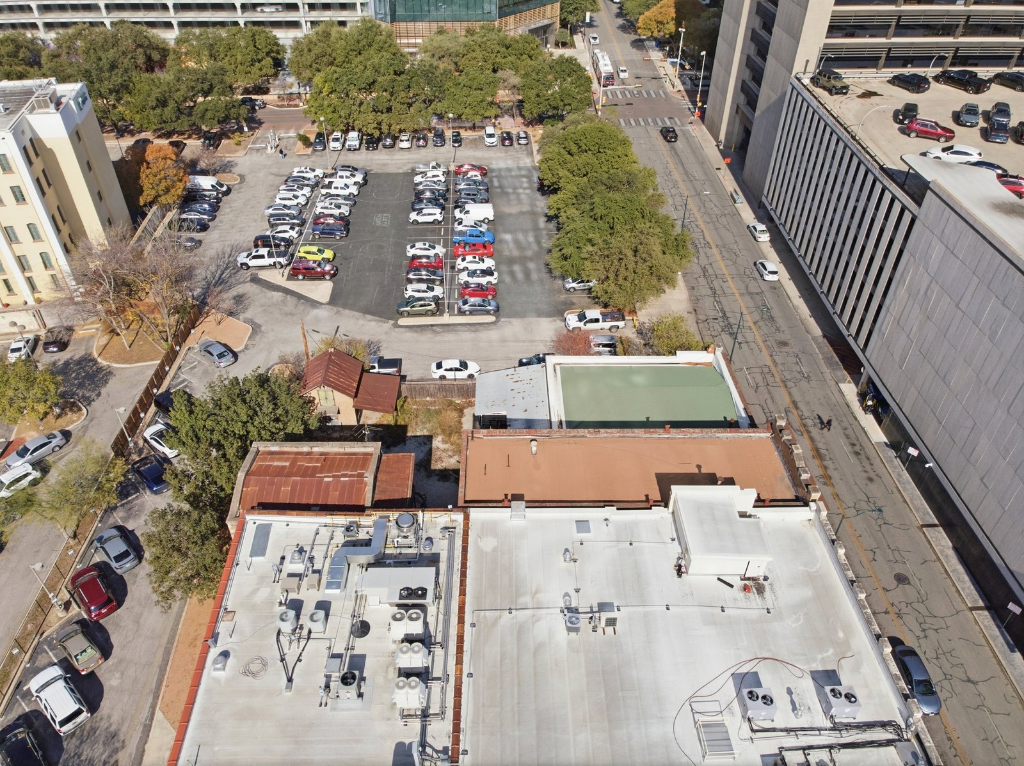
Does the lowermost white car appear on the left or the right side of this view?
left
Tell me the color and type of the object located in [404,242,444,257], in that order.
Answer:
white car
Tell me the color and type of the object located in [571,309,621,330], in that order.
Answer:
white truck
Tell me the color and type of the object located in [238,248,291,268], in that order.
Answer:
white vehicle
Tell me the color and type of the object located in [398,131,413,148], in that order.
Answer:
white car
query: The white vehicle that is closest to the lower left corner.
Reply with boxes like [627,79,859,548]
[29,663,95,740]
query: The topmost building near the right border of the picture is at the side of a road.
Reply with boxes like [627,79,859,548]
[705,0,1024,213]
